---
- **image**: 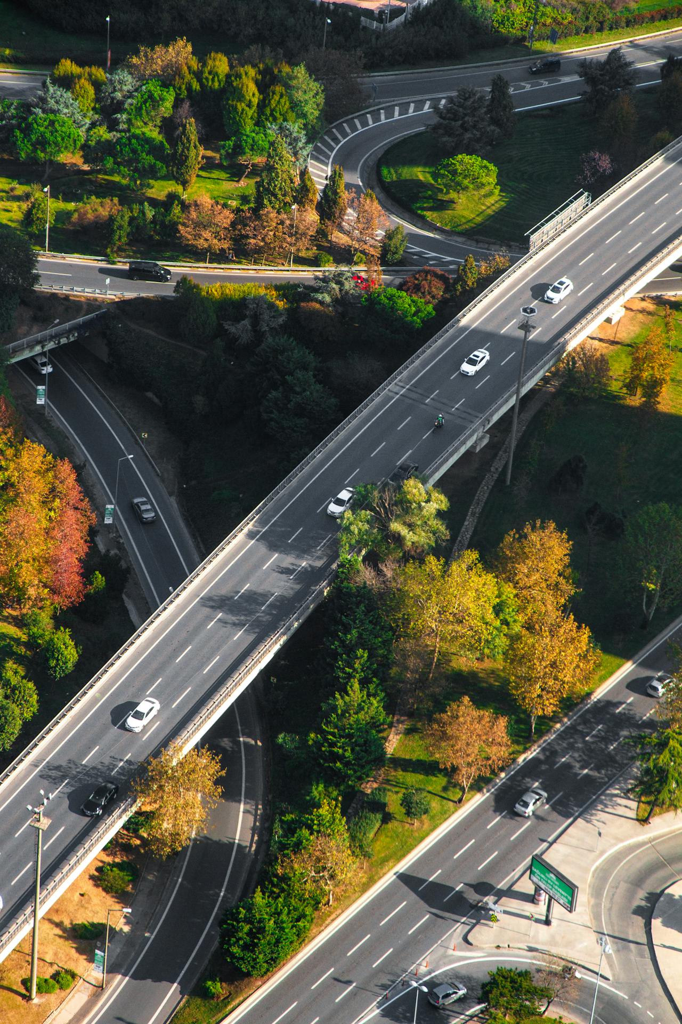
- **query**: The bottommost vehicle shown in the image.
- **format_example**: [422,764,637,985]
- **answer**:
[428,982,469,1010]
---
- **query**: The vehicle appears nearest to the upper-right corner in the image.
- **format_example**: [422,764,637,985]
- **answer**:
[528,53,563,75]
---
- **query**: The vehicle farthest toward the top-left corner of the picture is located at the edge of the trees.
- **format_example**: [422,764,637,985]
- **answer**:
[128,260,171,284]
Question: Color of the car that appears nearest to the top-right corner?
black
